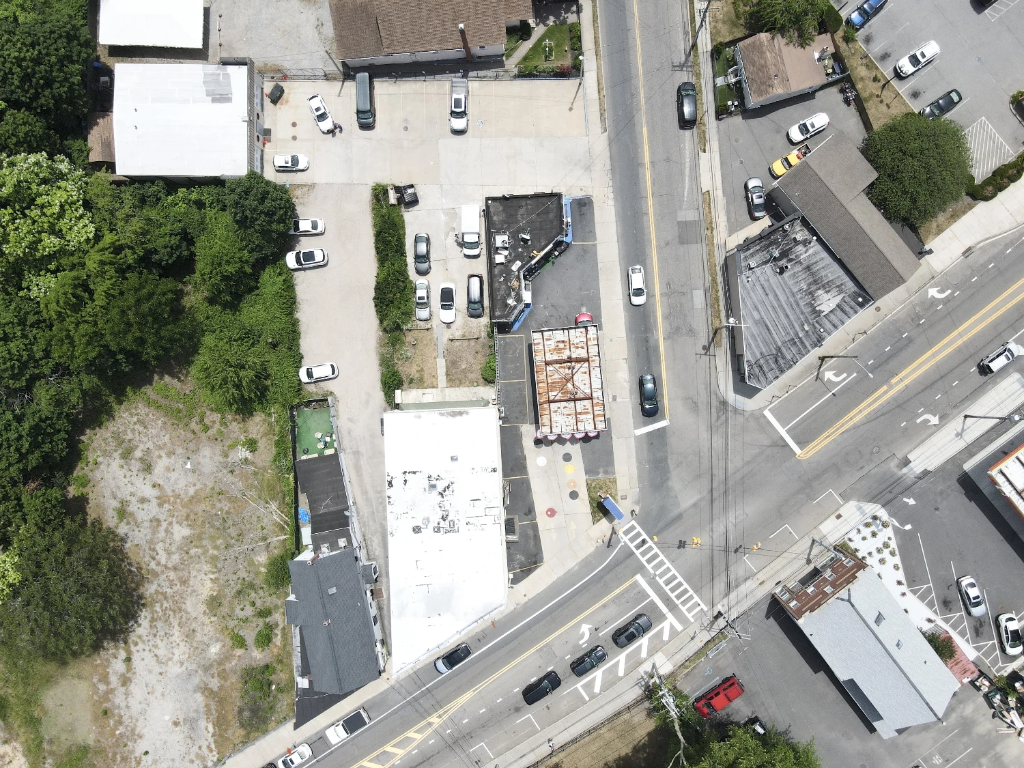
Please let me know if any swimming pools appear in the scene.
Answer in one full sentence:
No, the picture doesn't show any swimming pool.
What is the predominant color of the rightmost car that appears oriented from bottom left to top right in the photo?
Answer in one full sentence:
The rightmost car that appears oriented from bottom left to top right is white.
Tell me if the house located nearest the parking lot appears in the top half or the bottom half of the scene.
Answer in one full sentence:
The house located nearest the parking lot is in the top half of the image.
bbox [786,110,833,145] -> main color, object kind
white car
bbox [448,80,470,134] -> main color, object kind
white truck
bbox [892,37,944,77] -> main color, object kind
white car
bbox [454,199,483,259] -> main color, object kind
white truck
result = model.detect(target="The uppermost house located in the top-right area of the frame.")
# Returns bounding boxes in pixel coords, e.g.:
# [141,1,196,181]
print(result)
[729,32,839,110]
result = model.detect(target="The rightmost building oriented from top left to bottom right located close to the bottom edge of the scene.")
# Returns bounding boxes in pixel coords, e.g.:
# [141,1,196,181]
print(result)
[766,543,961,739]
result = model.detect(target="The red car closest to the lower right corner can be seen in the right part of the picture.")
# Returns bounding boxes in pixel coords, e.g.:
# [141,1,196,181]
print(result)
[690,679,747,717]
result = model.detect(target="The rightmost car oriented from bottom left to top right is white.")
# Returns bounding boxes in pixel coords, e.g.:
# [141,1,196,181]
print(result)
[975,340,1022,375]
